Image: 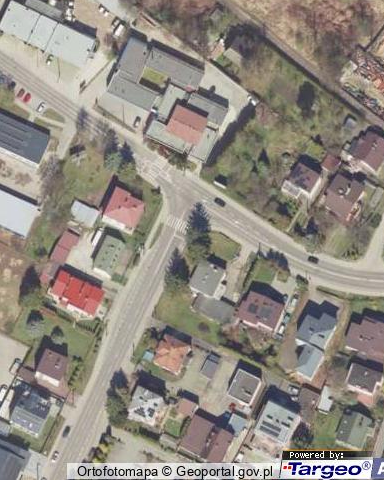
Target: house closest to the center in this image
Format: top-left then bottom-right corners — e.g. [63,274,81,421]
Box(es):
[190,258,228,299]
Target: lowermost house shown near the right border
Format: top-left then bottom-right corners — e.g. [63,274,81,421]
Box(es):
[332,409,374,451]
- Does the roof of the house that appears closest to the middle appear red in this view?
No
